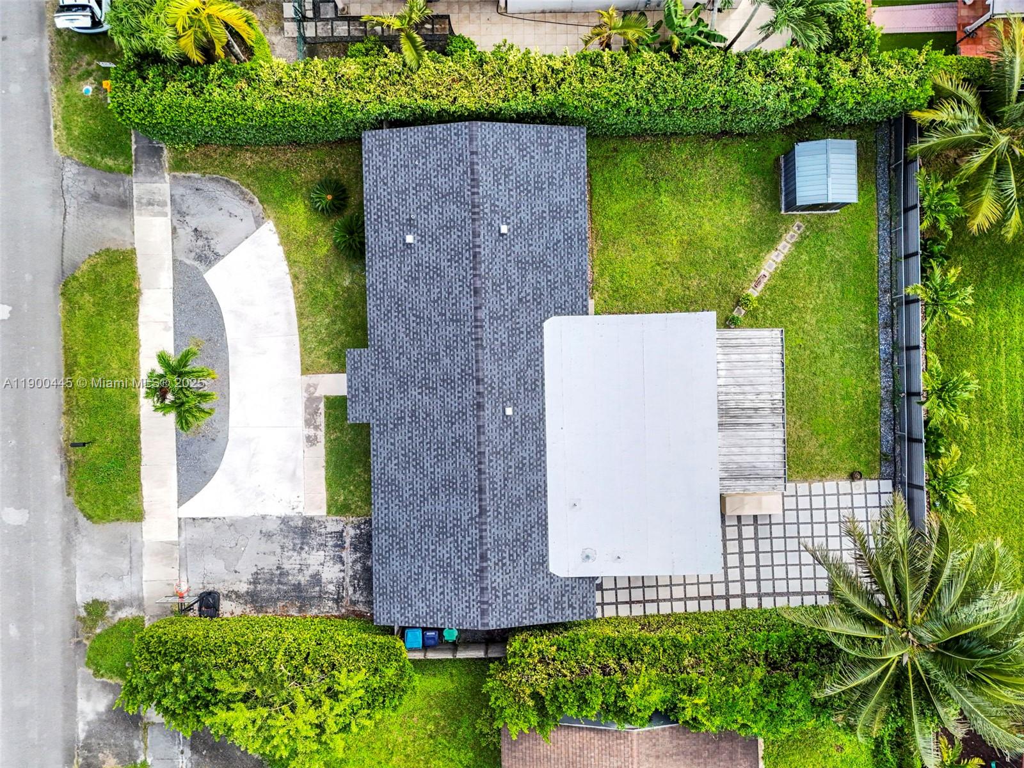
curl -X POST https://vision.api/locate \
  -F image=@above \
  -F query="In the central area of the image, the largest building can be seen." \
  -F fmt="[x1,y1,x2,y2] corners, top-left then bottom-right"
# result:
[347,121,722,631]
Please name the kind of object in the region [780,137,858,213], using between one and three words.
shed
